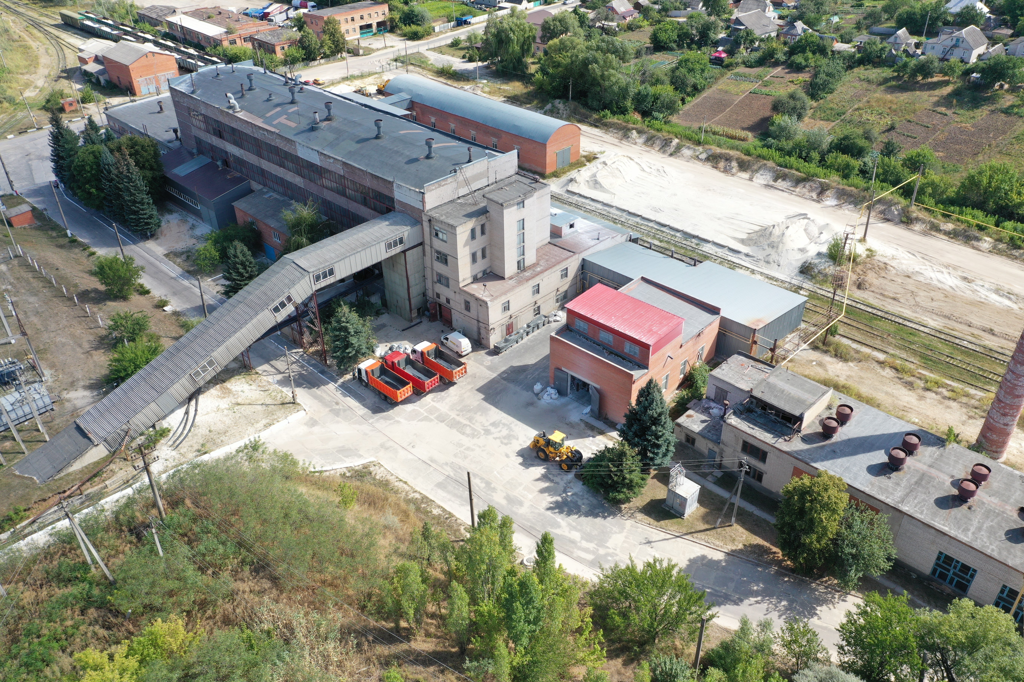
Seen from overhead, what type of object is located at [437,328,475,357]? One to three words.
van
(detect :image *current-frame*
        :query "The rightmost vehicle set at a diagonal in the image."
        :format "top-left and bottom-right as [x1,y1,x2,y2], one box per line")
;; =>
[532,428,596,483]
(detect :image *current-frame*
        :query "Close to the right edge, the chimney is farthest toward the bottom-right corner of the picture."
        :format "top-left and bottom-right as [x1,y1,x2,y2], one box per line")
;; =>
[973,346,1024,470]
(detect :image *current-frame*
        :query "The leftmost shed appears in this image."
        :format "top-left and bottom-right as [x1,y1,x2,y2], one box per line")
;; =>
[0,196,36,228]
